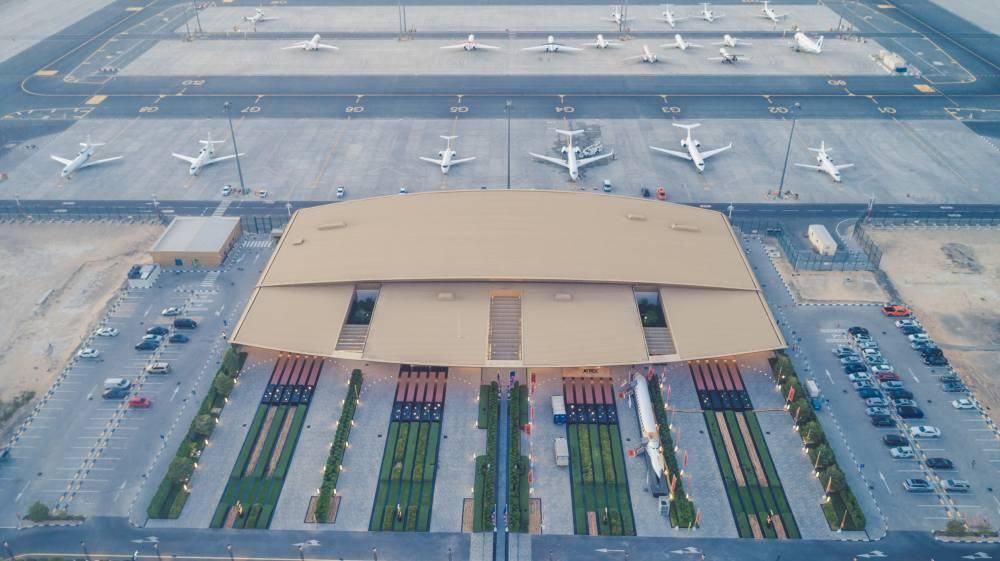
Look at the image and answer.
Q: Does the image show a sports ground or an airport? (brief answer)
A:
airport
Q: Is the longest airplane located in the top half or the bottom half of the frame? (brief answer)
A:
bottom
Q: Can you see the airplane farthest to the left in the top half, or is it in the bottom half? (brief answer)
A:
top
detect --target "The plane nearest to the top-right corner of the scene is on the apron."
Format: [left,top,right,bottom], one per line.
[780,32,846,52]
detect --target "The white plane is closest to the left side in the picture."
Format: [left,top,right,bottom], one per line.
[48,134,125,179]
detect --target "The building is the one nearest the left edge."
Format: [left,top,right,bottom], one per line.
[146,216,242,270]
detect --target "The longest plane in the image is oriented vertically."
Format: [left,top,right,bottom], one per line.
[619,372,669,496]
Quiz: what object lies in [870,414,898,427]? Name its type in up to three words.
vehicle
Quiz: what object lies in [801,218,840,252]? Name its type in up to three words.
building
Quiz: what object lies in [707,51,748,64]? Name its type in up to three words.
airplane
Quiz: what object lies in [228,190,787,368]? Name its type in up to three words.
building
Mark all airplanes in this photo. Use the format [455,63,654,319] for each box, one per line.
[661,39,701,52]
[529,130,614,181]
[278,36,339,52]
[583,37,623,50]
[619,372,669,496]
[522,36,583,52]
[707,51,748,64]
[794,141,854,185]
[754,9,791,25]
[648,123,733,174]
[690,4,726,25]
[780,32,846,52]
[710,36,750,49]
[601,13,636,27]
[439,35,499,51]
[419,136,476,178]
[650,7,687,28]
[48,134,125,179]
[171,131,245,176]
